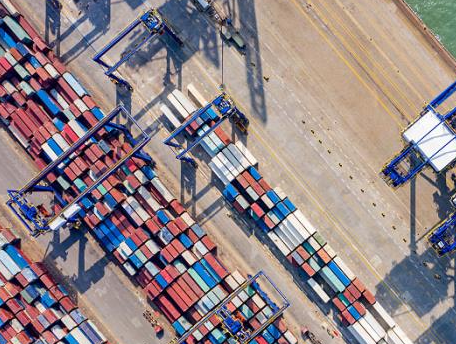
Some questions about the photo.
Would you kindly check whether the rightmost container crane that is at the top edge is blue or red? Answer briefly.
blue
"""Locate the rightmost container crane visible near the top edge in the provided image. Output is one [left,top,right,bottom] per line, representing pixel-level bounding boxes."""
[92,9,183,92]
